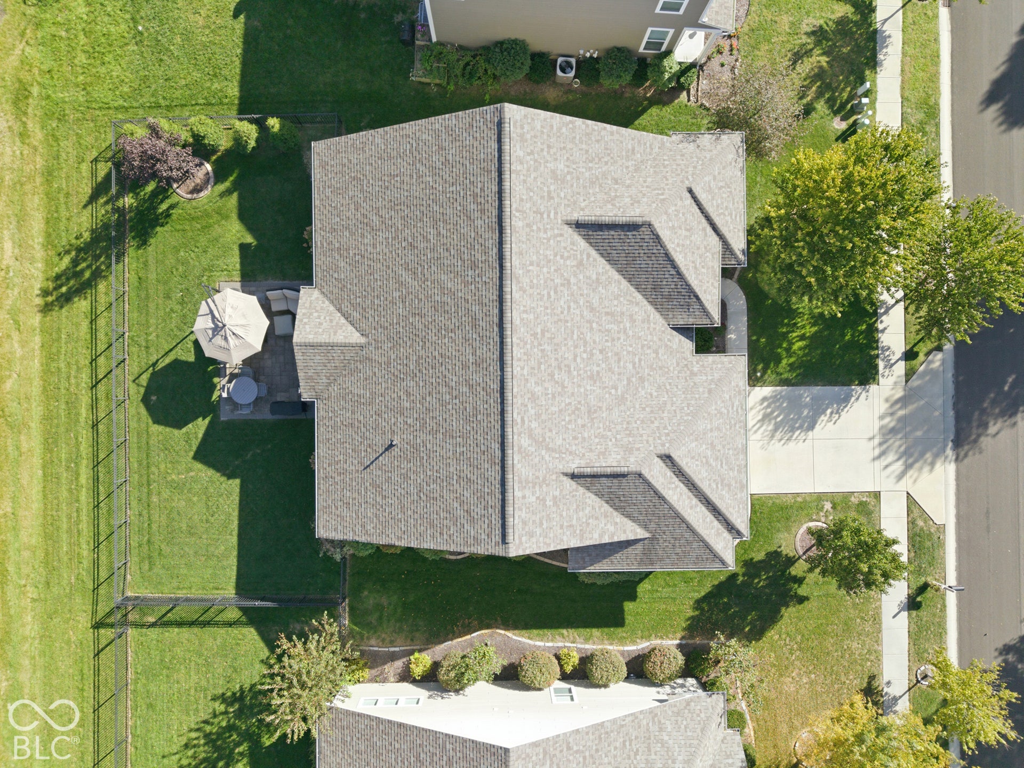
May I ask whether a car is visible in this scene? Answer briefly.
No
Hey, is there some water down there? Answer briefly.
No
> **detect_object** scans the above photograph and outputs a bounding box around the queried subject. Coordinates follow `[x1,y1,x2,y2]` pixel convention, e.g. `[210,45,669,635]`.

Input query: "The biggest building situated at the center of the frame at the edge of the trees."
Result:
[294,105,751,573]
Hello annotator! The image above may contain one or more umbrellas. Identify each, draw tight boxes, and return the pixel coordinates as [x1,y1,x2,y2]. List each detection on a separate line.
[194,283,269,364]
